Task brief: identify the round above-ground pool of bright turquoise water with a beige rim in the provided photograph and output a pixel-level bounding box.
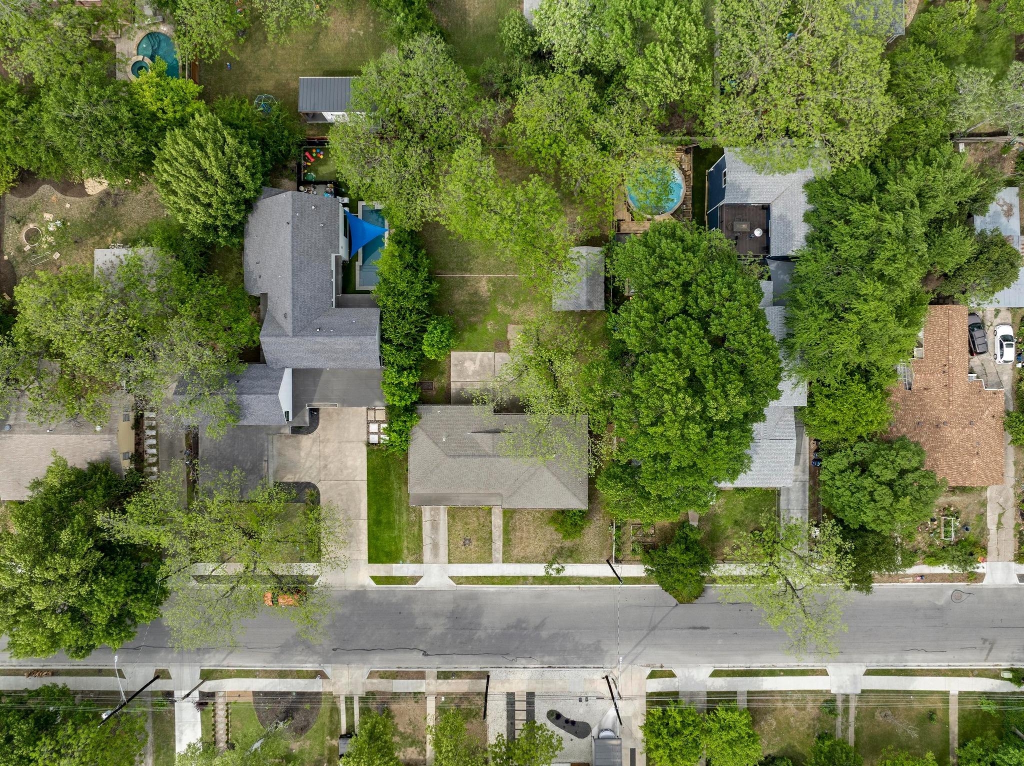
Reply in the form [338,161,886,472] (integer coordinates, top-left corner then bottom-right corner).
[626,163,686,222]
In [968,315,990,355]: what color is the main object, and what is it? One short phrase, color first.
gray car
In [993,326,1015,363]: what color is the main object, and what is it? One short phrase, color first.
white car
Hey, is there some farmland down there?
No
